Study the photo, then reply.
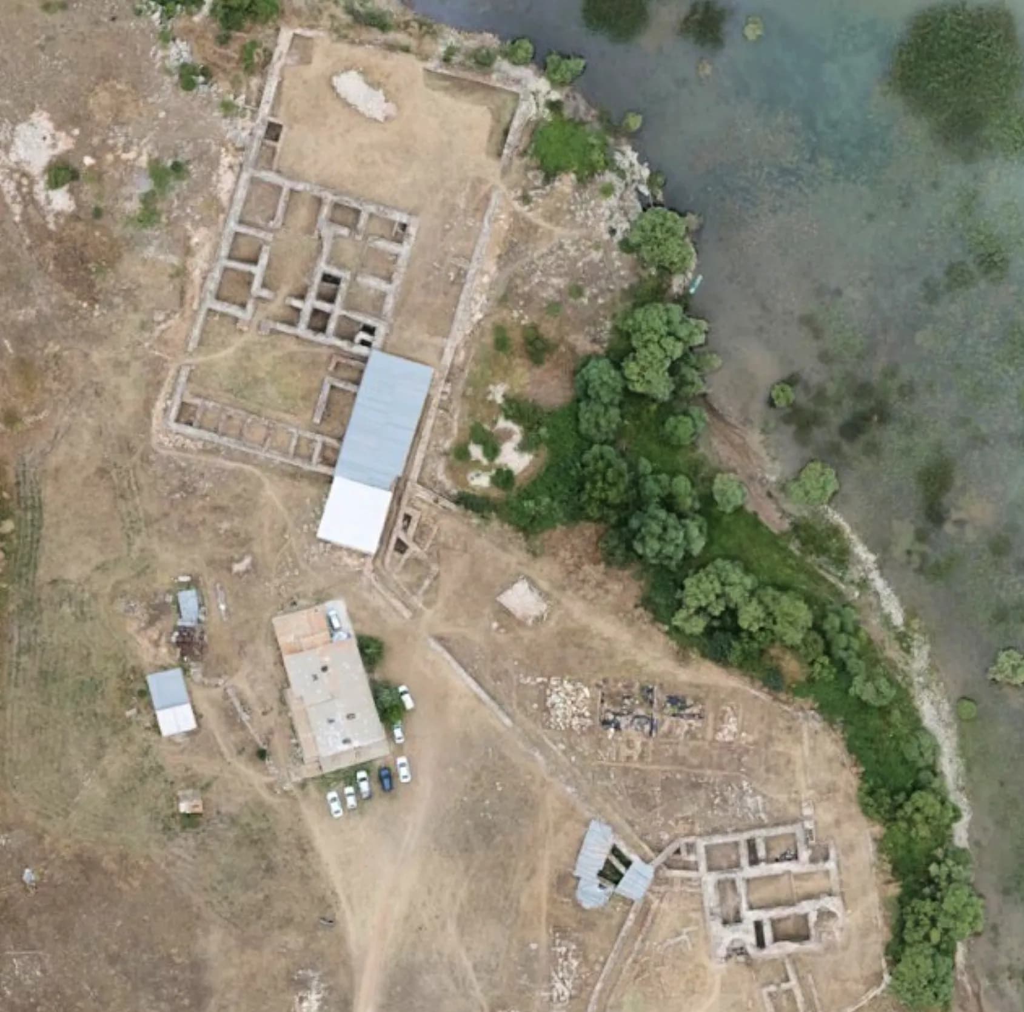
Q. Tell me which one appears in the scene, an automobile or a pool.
automobile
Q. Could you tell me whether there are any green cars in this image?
No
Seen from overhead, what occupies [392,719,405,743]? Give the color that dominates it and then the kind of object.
white vehicle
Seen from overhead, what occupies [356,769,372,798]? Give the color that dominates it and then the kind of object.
white car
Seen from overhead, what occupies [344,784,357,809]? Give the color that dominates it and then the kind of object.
white vehicle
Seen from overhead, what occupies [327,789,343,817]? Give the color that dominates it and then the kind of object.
white car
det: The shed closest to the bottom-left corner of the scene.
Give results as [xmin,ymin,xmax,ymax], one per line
[179,786,204,813]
